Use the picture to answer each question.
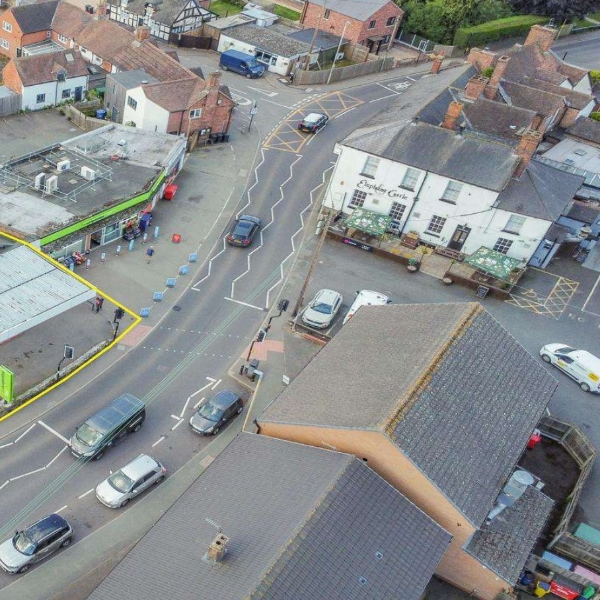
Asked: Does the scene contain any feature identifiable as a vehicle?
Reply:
Yes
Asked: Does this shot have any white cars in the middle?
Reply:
Yes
